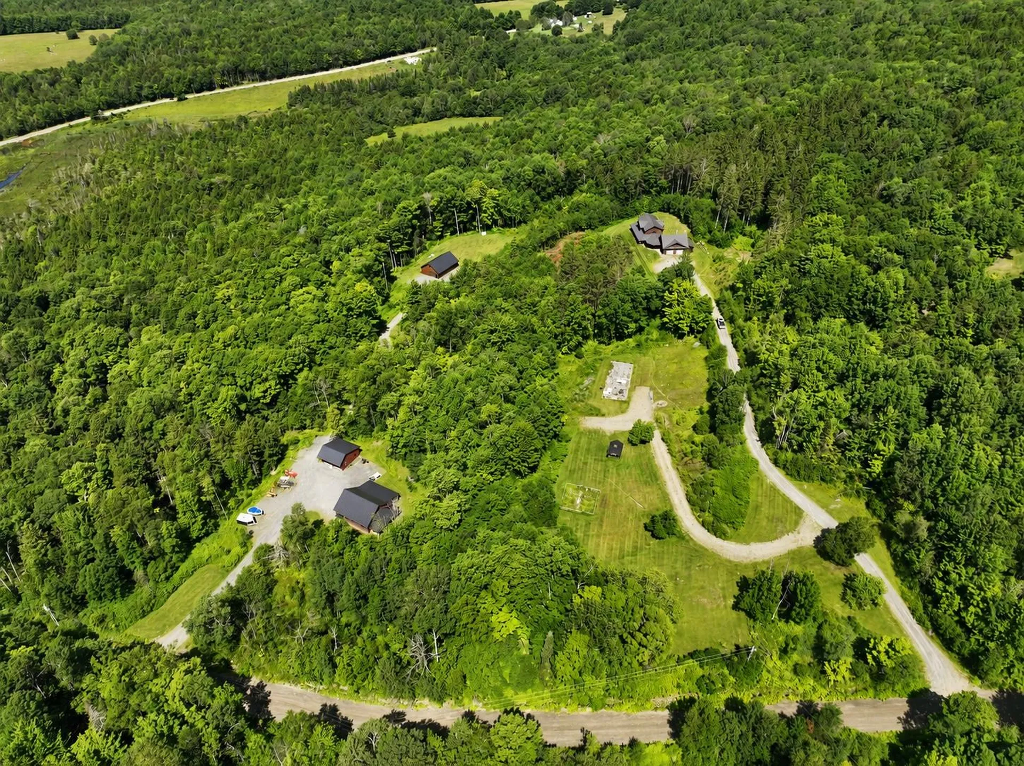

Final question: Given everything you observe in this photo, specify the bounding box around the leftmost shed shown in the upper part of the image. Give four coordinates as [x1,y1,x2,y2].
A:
[422,252,459,280]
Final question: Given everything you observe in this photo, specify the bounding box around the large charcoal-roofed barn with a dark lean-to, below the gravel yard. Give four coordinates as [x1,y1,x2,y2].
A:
[333,480,401,535]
